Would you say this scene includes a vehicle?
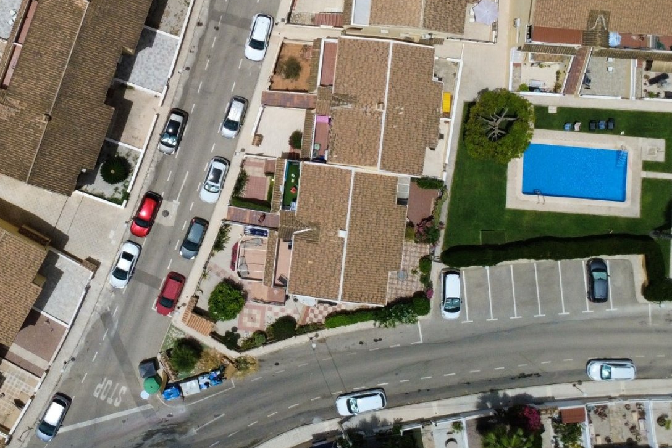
Yes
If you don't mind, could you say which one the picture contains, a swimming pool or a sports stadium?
swimming pool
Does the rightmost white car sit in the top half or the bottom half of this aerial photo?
bottom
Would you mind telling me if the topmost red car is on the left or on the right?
left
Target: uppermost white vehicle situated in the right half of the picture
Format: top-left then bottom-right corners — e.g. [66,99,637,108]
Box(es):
[438,269,465,318]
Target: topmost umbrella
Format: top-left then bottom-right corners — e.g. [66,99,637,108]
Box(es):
[473,0,497,27]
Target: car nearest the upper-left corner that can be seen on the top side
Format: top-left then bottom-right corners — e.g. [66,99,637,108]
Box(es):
[159,108,188,154]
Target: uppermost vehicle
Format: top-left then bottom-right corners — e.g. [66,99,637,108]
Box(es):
[244,13,272,61]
